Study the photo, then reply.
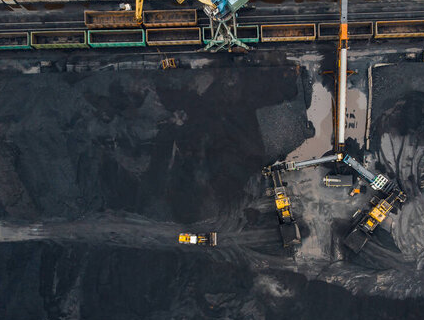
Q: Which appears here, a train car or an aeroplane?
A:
train car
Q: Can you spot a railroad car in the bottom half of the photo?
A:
No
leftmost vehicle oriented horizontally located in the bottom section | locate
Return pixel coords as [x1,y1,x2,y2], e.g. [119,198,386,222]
[179,232,218,246]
